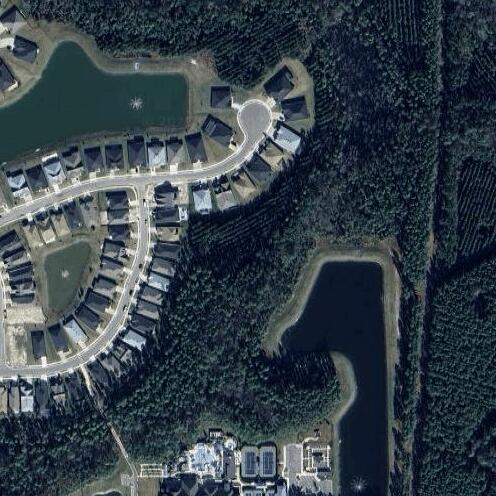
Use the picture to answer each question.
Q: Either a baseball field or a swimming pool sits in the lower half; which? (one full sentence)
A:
There is a swimming pool in the lower half.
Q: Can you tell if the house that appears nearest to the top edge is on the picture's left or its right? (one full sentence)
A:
You can find the house that appears nearest to the top edge on the left side of the picture.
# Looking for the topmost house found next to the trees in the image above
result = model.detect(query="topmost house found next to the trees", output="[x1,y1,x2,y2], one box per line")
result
[0,4,27,29]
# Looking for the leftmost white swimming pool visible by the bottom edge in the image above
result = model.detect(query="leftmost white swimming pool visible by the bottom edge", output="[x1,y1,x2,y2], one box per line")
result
[174,438,236,478]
